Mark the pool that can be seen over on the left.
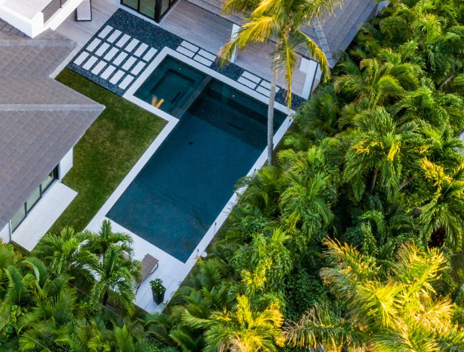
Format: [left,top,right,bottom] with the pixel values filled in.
[69,46,301,327]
